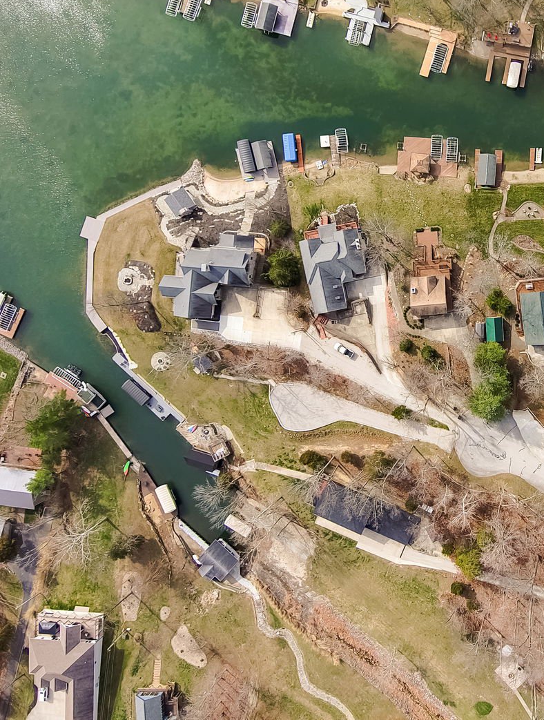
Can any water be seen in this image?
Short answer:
Yes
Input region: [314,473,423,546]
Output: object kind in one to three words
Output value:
house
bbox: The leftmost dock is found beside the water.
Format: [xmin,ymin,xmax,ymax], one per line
[0,305,27,339]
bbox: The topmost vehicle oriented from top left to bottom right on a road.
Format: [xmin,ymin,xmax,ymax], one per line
[331,341,355,361]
